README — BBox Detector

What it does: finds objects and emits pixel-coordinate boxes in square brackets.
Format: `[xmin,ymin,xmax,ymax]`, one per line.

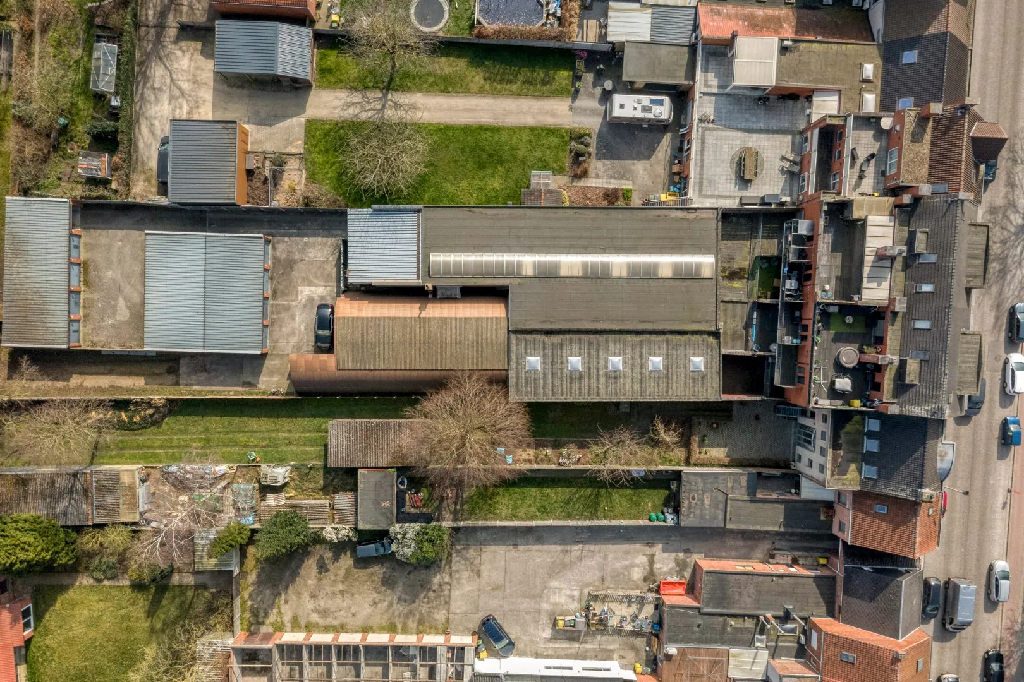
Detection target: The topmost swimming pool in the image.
[474,0,549,30]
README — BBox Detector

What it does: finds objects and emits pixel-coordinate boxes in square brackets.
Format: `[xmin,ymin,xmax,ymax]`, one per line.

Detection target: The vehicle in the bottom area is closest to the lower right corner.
[979,645,1007,682]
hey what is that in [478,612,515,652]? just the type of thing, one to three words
car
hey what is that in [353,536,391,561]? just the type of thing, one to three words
vehicle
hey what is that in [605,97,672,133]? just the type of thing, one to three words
van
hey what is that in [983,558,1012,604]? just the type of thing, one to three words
car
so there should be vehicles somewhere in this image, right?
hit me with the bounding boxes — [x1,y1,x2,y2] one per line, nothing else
[985,159,999,192]
[941,574,979,631]
[1003,301,1024,345]
[605,97,672,133]
[1000,352,1024,396]
[922,574,943,619]
[979,645,1007,682]
[478,612,515,652]
[312,304,332,351]
[983,558,1012,604]
[153,136,169,183]
[353,536,391,561]
[997,415,1023,448]
[965,377,985,418]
